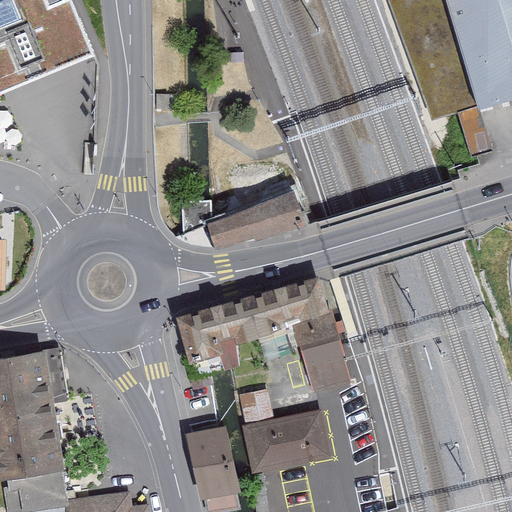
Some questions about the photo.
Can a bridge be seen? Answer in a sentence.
Yes, there's a bridge down there.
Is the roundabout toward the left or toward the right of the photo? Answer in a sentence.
It is on the left.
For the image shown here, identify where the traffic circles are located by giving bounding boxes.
[38,212,176,352]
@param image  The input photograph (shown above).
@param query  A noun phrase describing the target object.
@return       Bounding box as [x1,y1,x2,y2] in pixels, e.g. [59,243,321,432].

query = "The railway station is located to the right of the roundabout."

[329,275,412,512]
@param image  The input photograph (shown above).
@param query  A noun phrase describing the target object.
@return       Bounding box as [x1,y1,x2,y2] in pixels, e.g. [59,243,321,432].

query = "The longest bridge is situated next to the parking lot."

[310,182,471,279]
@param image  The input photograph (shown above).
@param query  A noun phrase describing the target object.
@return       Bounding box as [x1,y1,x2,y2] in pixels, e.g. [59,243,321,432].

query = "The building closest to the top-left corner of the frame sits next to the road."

[0,0,92,92]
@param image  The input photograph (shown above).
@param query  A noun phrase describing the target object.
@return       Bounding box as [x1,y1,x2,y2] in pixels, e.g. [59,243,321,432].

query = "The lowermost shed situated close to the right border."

[459,106,493,156]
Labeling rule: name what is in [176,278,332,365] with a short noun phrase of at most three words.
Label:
building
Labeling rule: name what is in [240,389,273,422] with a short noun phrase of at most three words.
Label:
shed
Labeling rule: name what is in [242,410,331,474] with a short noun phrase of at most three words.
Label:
house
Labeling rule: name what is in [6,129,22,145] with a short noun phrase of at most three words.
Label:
umbrella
